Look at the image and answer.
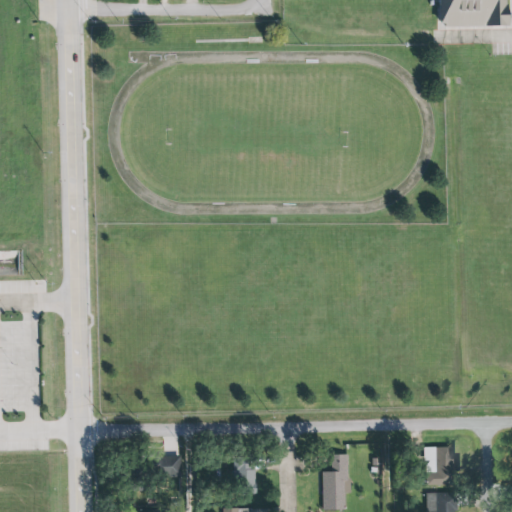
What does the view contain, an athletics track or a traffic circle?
athletics track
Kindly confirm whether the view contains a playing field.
Yes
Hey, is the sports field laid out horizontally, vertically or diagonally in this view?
horizontally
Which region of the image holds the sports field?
top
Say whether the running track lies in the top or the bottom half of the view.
top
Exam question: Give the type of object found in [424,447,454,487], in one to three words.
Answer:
house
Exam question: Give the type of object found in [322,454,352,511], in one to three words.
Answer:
house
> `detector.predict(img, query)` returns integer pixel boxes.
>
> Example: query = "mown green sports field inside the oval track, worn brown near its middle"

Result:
[121,64,422,202]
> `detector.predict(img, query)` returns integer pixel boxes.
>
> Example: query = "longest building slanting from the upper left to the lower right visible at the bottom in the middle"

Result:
[234,463,258,494]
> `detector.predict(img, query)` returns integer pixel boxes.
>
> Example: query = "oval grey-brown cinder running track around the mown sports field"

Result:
[108,51,435,214]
